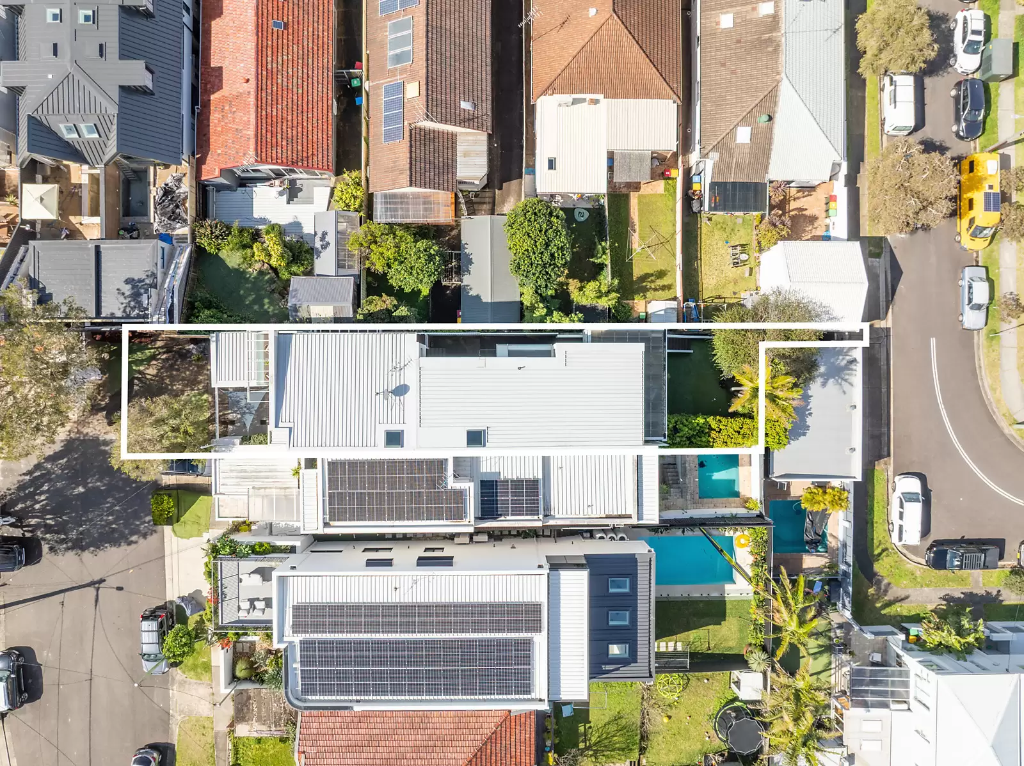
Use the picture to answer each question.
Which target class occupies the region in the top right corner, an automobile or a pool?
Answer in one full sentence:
Looking in the top right corner, you will find an automobile.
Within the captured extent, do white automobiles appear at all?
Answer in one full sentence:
Yes, the image includes a white automobile.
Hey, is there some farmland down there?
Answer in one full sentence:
No, no farmland is visible.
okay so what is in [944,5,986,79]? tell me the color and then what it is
white car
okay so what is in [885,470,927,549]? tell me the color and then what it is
white car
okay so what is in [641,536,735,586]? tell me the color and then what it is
blue swimming pool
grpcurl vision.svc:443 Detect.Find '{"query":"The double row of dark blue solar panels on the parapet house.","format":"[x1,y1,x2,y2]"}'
[298,641,535,698]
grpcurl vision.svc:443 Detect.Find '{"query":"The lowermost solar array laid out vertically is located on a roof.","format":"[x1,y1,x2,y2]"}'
[381,80,403,142]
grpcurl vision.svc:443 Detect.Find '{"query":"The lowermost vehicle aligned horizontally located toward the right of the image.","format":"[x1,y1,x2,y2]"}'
[923,537,1003,574]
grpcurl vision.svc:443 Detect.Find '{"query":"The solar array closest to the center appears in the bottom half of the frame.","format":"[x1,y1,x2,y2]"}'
[479,480,540,517]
